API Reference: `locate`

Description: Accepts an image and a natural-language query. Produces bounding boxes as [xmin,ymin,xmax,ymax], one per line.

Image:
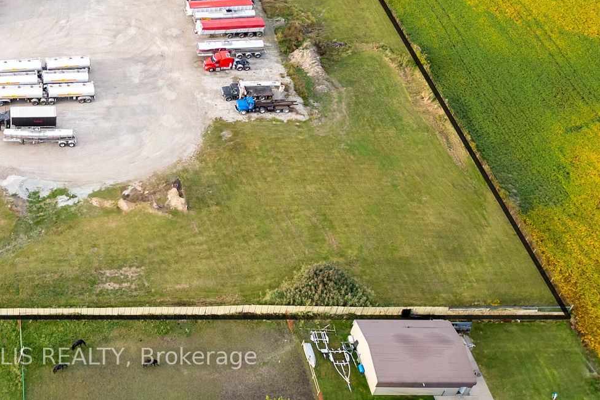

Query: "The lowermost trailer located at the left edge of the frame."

[3,126,78,146]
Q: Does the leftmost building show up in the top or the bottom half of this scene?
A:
bottom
